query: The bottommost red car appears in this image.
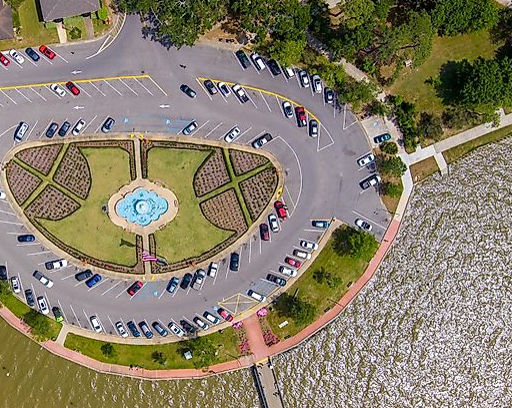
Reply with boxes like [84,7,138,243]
[216,306,234,322]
